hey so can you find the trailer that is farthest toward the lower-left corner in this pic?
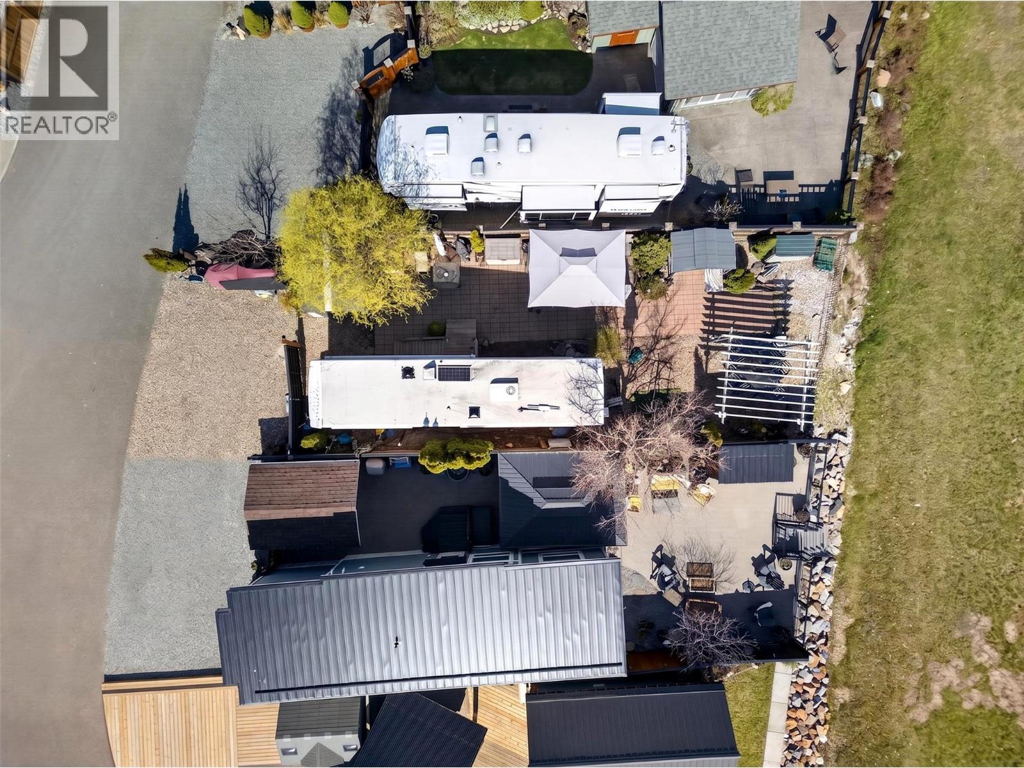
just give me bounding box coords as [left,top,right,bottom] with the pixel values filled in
[310,354,604,427]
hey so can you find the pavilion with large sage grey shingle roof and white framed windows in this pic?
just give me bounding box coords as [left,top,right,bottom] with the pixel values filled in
[648,0,797,115]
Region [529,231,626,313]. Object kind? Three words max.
gazebo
